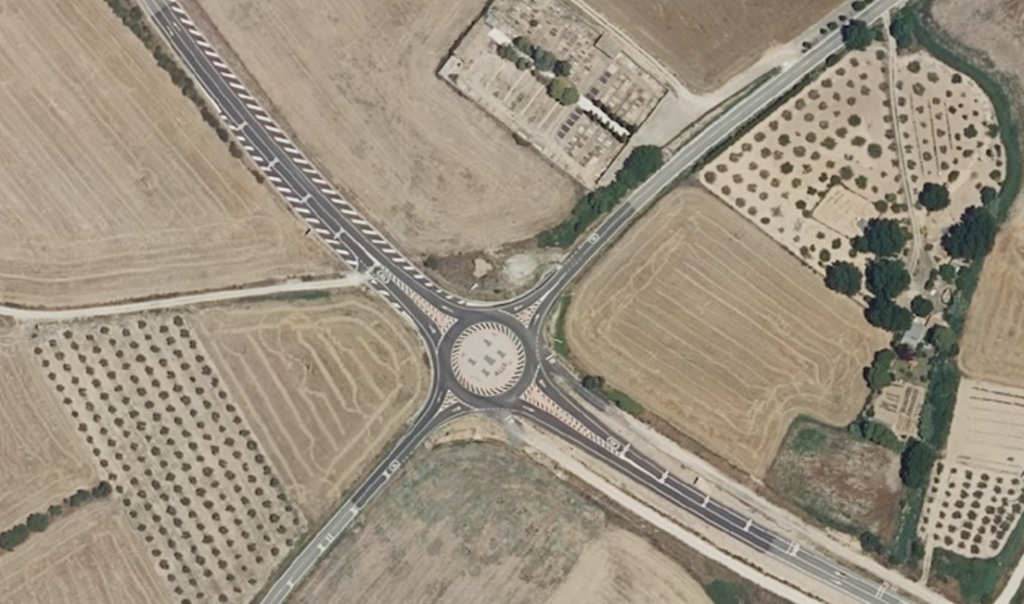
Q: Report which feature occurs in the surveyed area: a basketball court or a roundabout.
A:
roundabout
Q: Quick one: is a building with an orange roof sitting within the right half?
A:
No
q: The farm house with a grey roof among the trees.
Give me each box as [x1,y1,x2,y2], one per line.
[902,321,929,349]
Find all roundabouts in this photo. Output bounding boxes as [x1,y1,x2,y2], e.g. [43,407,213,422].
[383,267,619,455]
